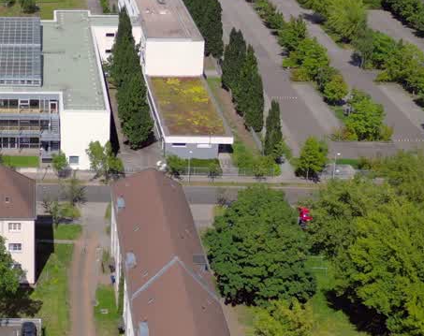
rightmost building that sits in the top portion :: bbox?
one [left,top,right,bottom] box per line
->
[146,80,233,163]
